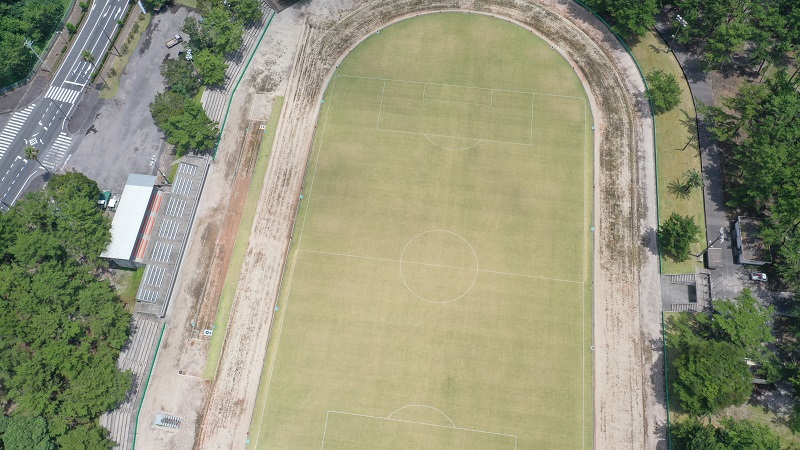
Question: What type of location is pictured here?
sports ground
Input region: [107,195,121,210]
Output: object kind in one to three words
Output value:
vehicle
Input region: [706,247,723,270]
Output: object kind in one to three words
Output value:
shed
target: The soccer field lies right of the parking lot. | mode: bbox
[246,13,593,450]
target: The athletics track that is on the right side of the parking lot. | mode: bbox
[197,0,645,450]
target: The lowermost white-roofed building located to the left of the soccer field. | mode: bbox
[100,174,160,264]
